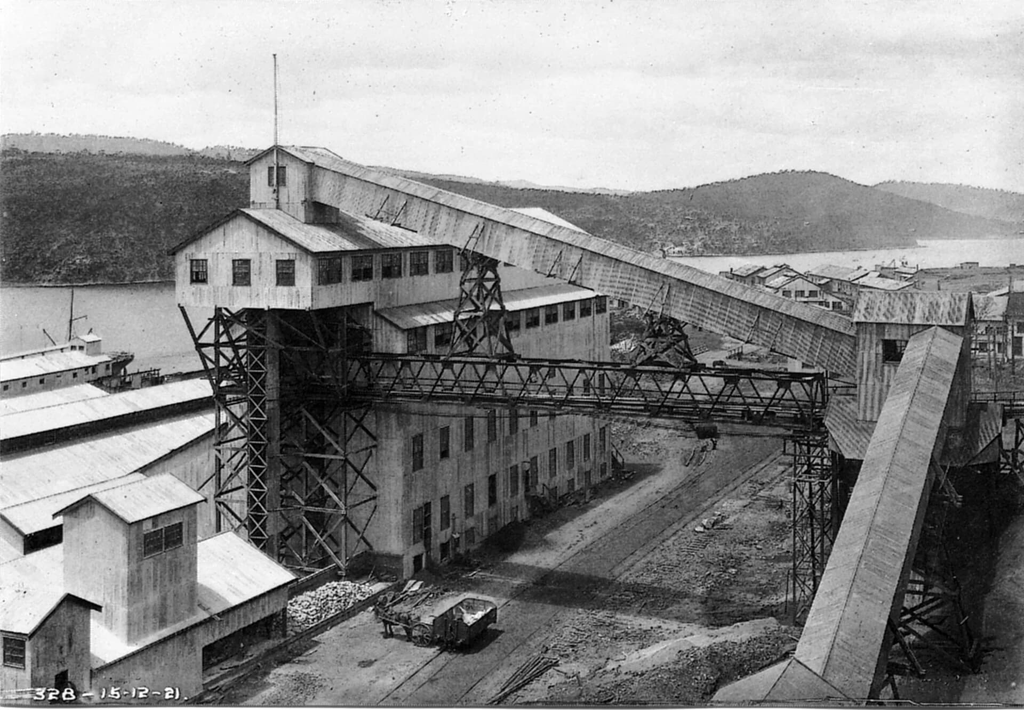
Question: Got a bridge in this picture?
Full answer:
Yes, the photo shows a bridge.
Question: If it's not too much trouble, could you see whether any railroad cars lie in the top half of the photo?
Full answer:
No, no railroad car appears in the top half of the photo.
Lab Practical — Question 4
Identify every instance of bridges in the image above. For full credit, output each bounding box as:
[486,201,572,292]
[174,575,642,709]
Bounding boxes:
[318,349,827,433]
